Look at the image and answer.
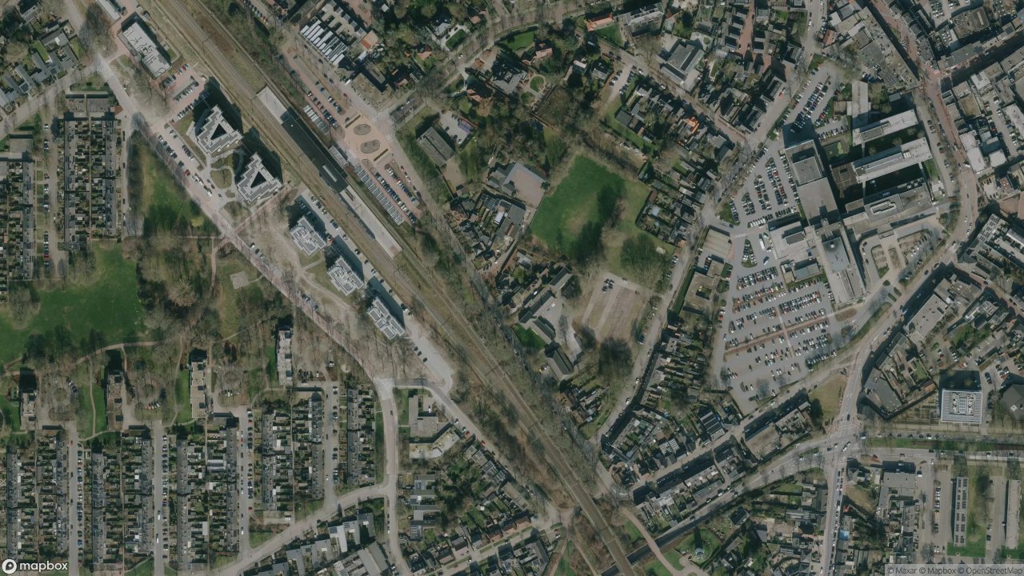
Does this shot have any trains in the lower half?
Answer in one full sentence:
No, I see no train in the lower half.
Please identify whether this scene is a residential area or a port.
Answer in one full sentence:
The picture captures a residential area.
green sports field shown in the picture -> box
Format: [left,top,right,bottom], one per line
[530,155,623,260]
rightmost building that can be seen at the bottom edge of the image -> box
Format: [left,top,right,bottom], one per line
[1007,474,1020,550]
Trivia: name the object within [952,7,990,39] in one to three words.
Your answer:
building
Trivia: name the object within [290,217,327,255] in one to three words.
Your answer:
building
